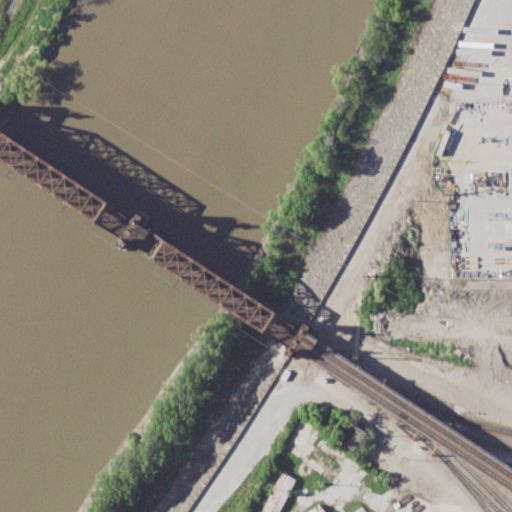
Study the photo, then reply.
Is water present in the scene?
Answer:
Yes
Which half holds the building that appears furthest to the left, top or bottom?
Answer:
bottom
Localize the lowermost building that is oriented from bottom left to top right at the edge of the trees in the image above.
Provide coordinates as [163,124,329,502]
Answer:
[262,476,293,512]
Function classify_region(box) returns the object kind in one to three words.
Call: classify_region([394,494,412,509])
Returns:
vehicle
